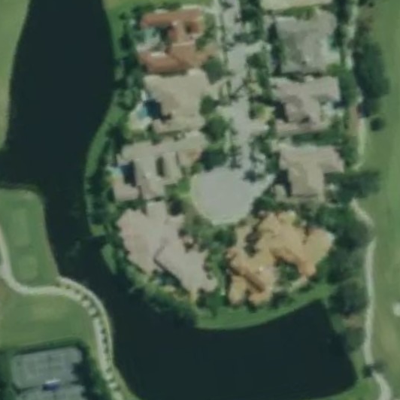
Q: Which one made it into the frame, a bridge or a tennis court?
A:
tennis court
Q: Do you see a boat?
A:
No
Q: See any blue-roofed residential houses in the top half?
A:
No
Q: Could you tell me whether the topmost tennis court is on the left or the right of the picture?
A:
left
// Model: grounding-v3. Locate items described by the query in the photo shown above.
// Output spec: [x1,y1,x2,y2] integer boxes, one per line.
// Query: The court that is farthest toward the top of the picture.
[11,346,85,389]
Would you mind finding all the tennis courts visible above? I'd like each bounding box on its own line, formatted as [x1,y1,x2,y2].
[15,382,87,400]
[11,346,85,389]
